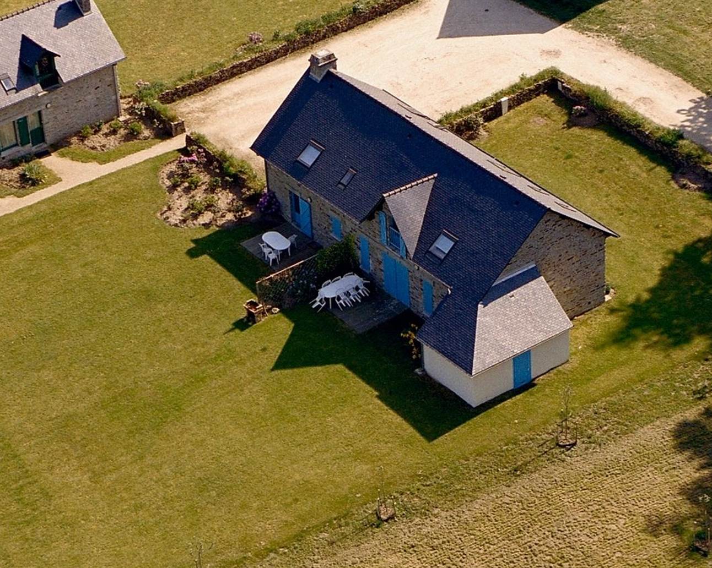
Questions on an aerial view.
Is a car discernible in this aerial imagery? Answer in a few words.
No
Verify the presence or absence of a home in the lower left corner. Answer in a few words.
No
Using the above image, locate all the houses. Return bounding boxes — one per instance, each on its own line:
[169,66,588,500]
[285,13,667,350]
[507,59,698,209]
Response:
[0,0,126,167]
[250,45,616,408]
